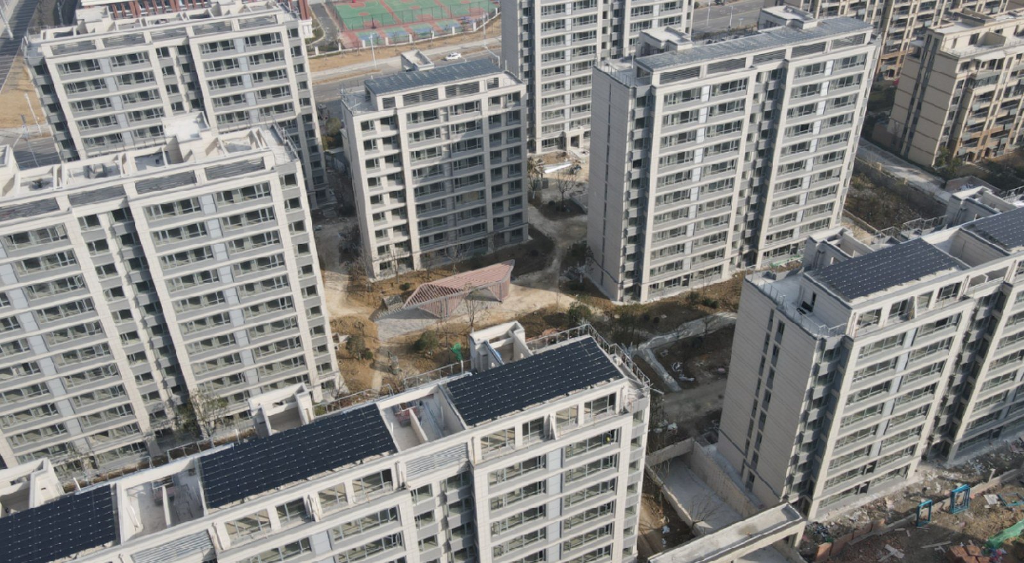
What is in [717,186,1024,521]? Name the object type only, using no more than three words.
building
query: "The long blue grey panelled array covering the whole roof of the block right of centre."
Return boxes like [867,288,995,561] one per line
[627,17,876,72]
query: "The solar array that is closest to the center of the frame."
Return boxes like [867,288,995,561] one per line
[445,339,619,424]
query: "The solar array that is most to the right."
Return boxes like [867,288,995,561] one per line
[972,209,1024,249]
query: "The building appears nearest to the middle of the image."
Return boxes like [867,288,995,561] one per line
[401,255,514,318]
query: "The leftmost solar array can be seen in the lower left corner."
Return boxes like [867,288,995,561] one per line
[0,482,115,563]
